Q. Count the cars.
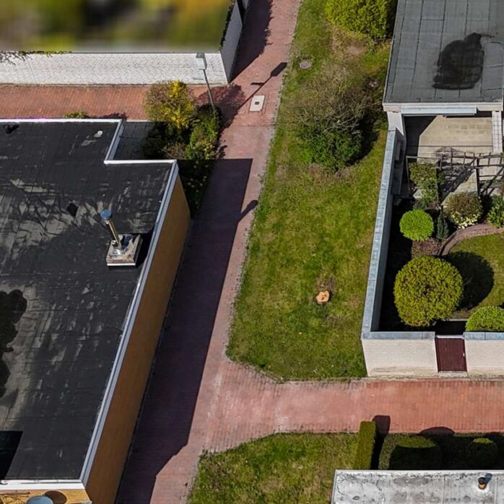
0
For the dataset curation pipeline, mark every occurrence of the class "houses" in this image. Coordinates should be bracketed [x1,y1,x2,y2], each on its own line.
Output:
[383,0,504,161]
[330,471,504,504]
[0,118,187,504]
